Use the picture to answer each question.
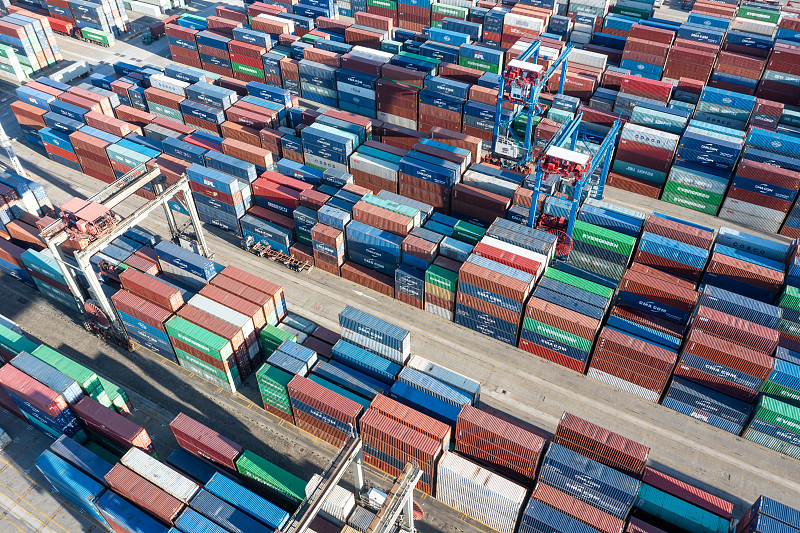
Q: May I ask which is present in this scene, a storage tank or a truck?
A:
truck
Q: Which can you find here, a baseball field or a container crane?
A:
container crane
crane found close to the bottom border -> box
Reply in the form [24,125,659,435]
[269,427,430,533]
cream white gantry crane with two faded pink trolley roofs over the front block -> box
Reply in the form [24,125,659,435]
[26,154,223,349]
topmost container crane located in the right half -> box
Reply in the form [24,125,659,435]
[489,27,579,167]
